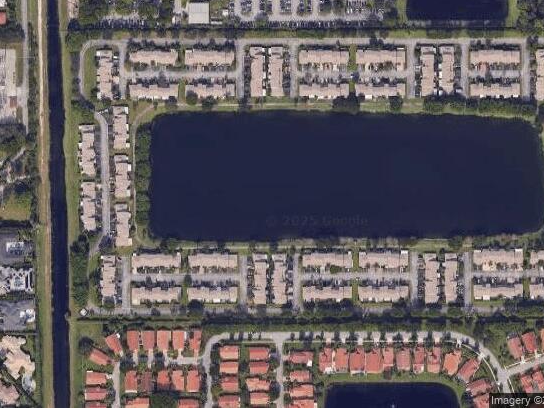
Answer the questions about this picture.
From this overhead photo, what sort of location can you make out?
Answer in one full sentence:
This image shows a residential area.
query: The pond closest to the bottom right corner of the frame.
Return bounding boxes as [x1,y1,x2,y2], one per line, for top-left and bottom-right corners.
[325,382,461,408]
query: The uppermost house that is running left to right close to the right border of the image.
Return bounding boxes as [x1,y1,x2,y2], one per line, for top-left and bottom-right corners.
[470,48,521,66]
